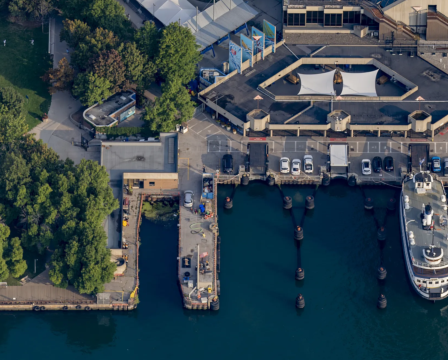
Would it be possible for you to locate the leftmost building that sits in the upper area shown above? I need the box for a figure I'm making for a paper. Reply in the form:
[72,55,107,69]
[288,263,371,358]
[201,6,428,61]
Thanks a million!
[83,89,135,138]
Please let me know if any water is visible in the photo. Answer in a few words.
Yes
